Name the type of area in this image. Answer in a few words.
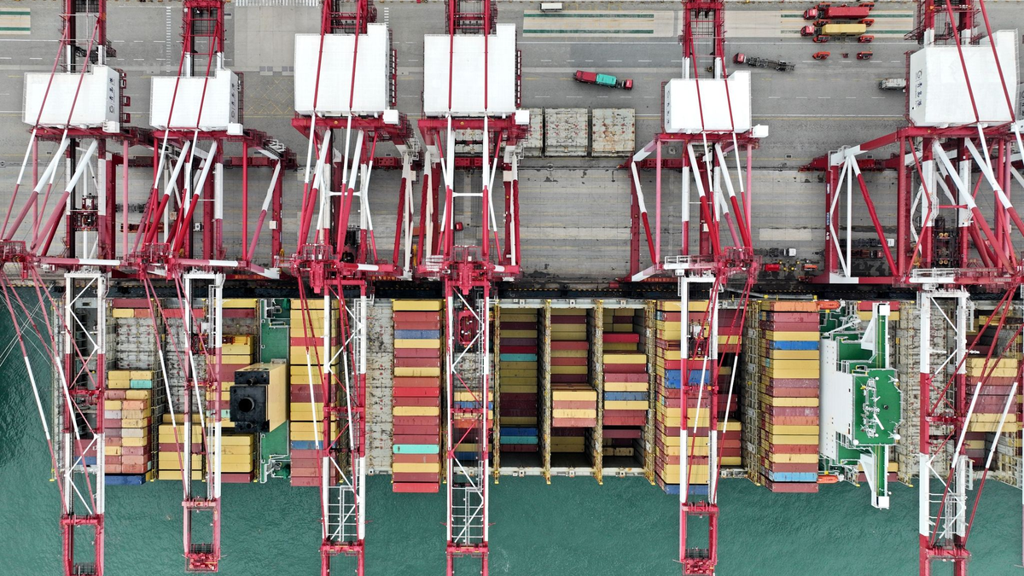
port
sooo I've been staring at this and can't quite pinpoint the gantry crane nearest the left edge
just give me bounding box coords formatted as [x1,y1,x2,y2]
[0,0,206,576]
